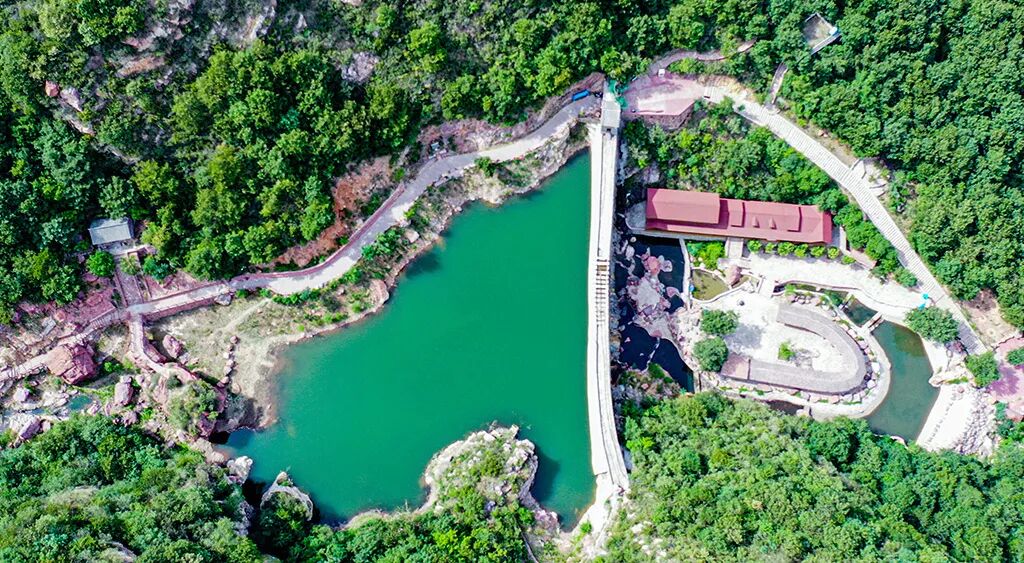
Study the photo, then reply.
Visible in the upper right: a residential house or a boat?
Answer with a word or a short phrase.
residential house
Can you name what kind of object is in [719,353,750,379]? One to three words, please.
building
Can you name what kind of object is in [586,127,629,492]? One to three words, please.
dam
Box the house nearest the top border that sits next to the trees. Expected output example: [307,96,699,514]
[798,12,841,53]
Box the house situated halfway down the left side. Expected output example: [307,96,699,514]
[85,215,134,245]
